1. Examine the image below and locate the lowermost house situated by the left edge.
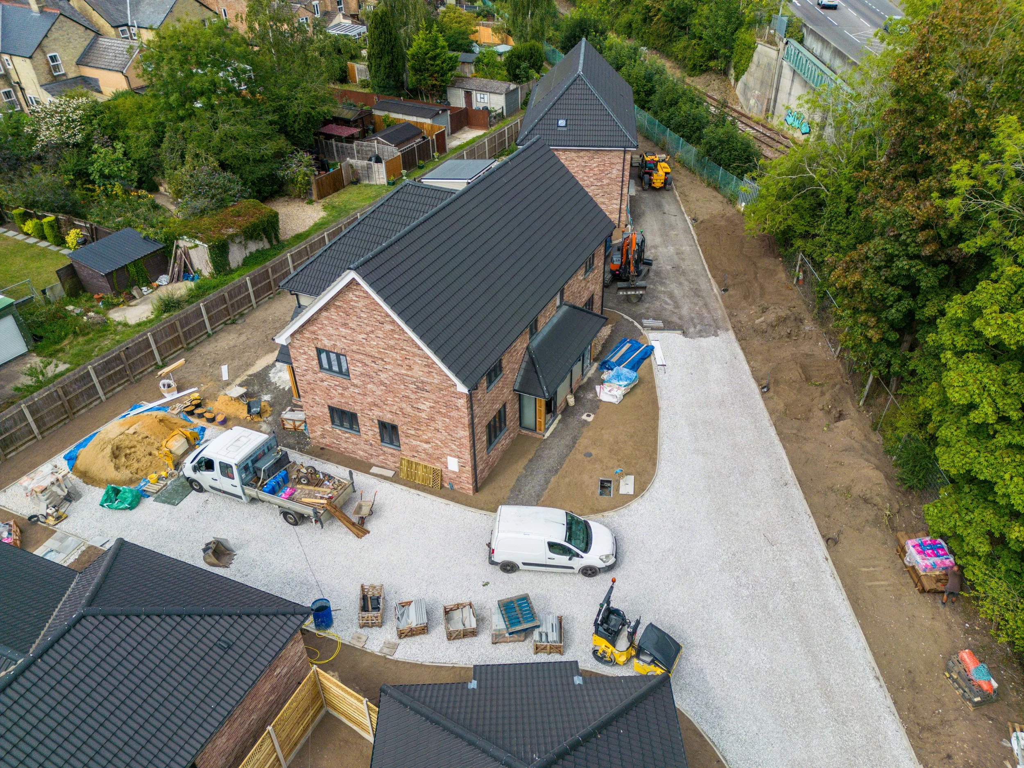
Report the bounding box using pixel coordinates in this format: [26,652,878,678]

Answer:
[0,532,313,768]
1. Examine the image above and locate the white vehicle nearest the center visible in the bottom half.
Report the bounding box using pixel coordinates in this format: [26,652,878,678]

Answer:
[483,504,619,580]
